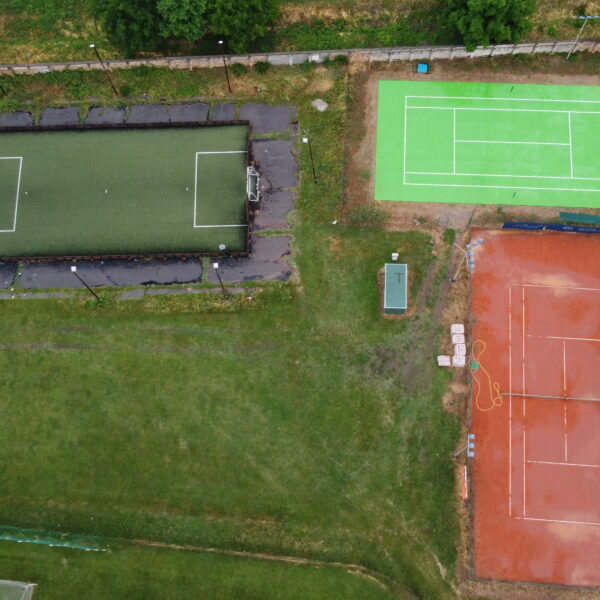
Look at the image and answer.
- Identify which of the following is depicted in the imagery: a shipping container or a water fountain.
shipping container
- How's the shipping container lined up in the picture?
from top to bottom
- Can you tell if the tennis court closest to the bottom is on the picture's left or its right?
right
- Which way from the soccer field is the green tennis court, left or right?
to the right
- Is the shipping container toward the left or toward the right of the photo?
right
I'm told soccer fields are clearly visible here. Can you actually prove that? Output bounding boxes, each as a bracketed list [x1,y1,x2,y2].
[0,125,258,255]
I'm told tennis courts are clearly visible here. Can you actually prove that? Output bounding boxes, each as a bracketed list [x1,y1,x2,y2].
[374,80,600,209]
[472,234,600,594]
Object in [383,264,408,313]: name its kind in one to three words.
shipping container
